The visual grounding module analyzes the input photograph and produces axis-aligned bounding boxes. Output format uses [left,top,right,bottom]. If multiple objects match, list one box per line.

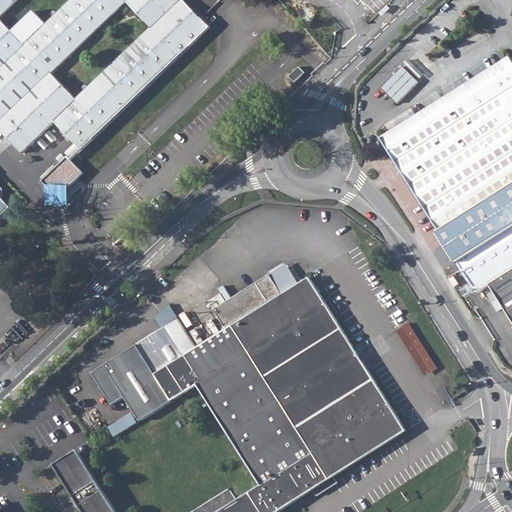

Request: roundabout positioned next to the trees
[268,111,348,197]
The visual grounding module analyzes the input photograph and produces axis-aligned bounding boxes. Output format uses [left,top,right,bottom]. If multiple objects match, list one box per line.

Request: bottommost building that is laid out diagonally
[51,448,116,512]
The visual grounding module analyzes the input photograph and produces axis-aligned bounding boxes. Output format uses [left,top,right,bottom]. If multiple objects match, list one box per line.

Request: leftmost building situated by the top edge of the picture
[0,0,211,158]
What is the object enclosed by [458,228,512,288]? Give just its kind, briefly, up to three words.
building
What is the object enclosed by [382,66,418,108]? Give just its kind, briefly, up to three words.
shed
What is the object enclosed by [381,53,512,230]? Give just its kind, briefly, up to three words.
building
